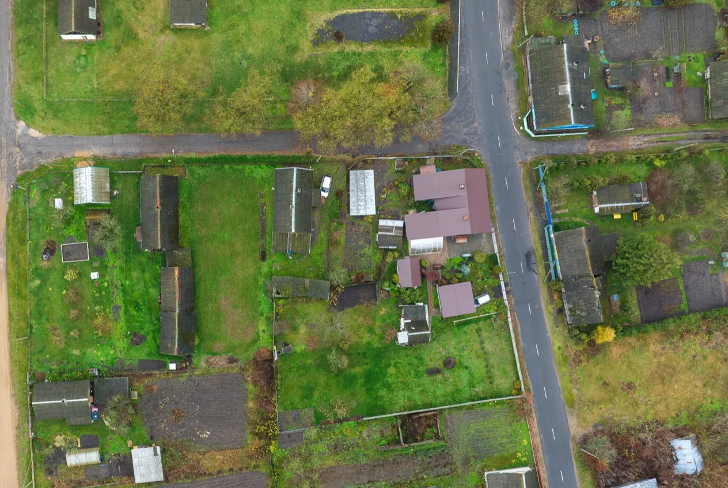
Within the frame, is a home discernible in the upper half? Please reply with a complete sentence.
Yes, in the upper half there is a home.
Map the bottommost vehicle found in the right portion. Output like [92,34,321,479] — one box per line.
[474,293,492,306]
